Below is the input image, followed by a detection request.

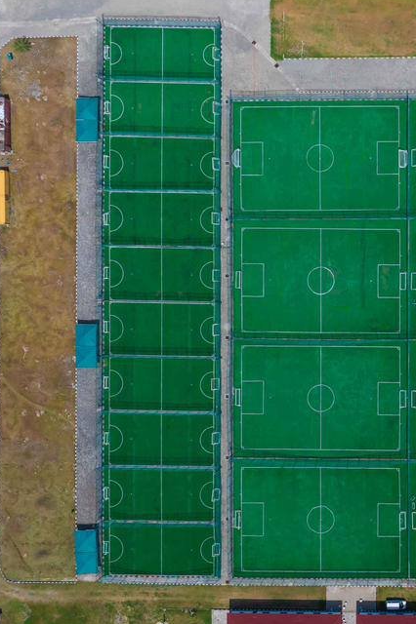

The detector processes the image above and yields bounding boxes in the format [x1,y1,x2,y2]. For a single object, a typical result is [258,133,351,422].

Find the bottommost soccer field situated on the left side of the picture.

[104,521,220,577]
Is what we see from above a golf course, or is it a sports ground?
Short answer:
sports ground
